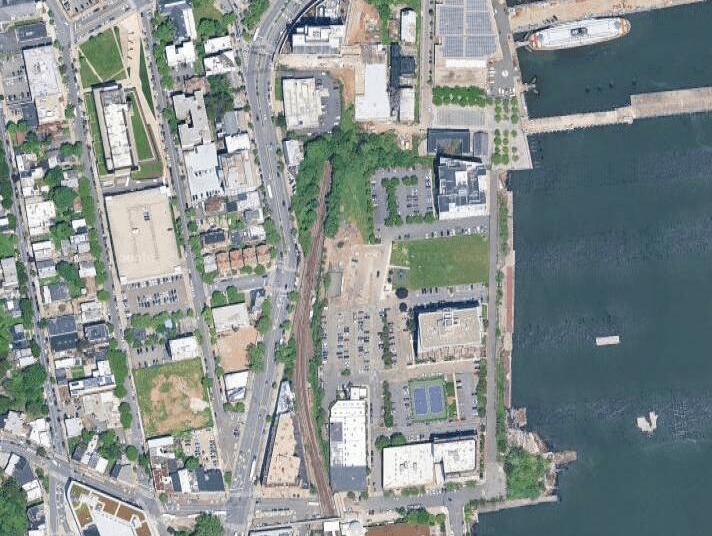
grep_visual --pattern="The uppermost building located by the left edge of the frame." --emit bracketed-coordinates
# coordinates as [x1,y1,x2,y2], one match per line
[0,0,38,26]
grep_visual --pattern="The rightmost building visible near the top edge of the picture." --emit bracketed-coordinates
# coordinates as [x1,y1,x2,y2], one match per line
[435,0,504,90]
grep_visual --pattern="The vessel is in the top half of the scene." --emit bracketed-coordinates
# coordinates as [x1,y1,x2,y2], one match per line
[527,19,631,51]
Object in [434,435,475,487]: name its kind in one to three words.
building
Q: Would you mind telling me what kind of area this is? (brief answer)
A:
residential area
